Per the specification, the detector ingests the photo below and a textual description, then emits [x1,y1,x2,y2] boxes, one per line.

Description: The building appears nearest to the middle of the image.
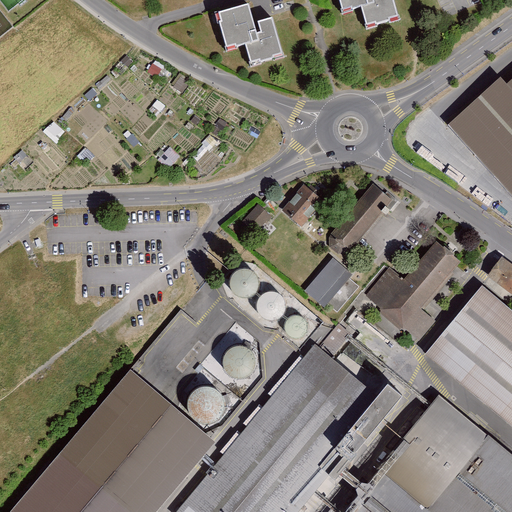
[244,204,272,226]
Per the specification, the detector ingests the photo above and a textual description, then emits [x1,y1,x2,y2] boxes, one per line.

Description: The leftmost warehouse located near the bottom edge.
[10,368,213,512]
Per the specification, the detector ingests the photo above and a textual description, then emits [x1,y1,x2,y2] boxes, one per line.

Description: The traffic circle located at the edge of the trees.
[314,92,387,163]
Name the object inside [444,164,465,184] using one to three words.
vehicle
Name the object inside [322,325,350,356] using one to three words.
building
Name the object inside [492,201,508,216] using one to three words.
vehicle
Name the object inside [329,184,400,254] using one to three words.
house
